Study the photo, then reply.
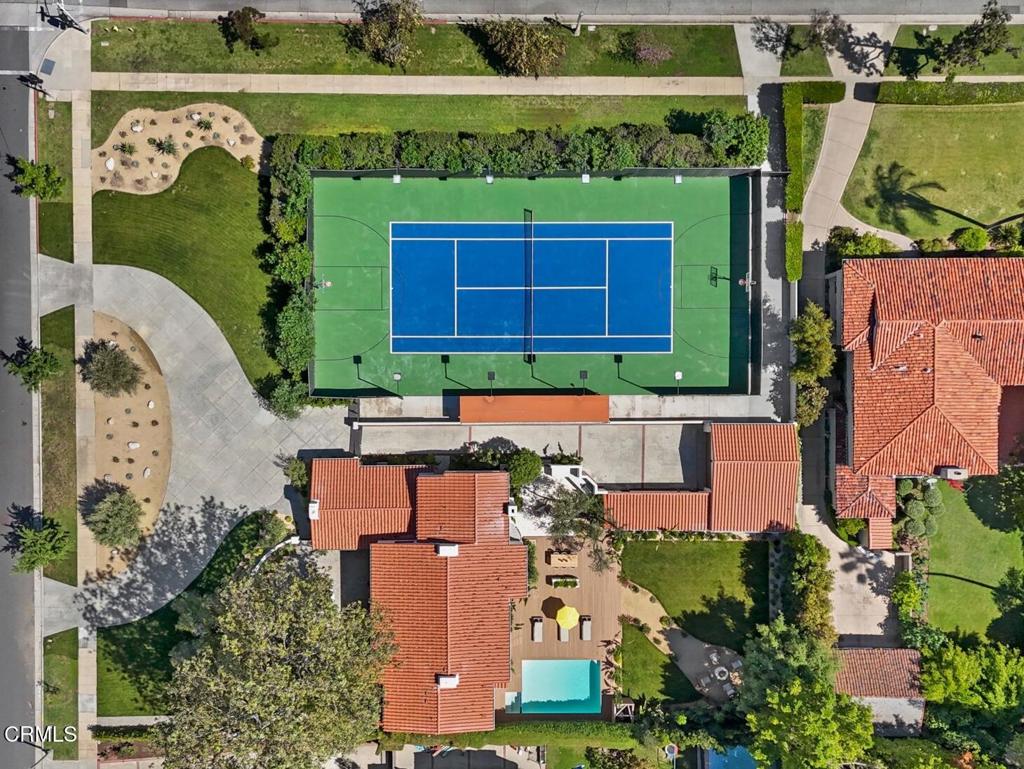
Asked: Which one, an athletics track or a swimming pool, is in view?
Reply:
swimming pool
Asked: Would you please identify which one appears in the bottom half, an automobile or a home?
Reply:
home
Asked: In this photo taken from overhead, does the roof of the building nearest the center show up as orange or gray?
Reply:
orange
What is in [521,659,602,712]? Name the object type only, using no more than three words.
swimming pool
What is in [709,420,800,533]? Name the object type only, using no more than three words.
building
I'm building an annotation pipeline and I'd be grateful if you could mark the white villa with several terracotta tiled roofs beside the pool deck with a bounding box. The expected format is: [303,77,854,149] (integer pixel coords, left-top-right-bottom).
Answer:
[308,457,528,737]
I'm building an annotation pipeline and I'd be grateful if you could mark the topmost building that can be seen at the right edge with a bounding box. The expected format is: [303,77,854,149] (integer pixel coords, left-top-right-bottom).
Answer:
[830,256,1024,550]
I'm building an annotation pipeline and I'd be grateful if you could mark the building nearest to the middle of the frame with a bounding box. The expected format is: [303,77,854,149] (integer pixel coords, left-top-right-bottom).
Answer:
[459,397,609,421]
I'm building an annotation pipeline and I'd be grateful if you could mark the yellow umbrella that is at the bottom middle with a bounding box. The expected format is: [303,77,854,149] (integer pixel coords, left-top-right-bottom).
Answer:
[555,604,579,628]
